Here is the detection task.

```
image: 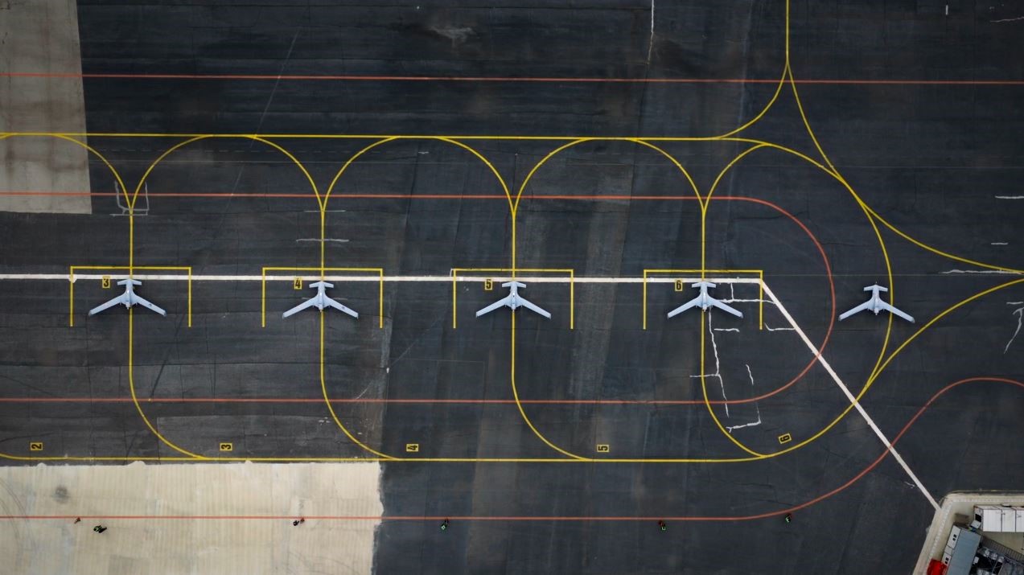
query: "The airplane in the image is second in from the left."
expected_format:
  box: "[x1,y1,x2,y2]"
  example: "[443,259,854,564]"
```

[282,282,357,318]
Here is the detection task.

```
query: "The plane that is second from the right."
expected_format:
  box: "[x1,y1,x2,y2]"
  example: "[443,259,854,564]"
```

[668,282,744,318]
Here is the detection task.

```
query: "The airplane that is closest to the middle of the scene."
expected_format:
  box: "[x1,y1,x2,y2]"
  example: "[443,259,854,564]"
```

[476,282,552,319]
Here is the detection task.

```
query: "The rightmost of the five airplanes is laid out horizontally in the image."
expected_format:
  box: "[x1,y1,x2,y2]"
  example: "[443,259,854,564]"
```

[839,285,916,322]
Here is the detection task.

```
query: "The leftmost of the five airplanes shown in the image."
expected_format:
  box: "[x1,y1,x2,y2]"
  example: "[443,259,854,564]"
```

[89,278,165,316]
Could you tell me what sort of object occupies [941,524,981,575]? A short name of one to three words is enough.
building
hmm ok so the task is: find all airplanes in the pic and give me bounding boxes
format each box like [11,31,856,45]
[839,285,916,322]
[476,282,552,319]
[89,278,165,316]
[282,282,357,318]
[668,282,744,318]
